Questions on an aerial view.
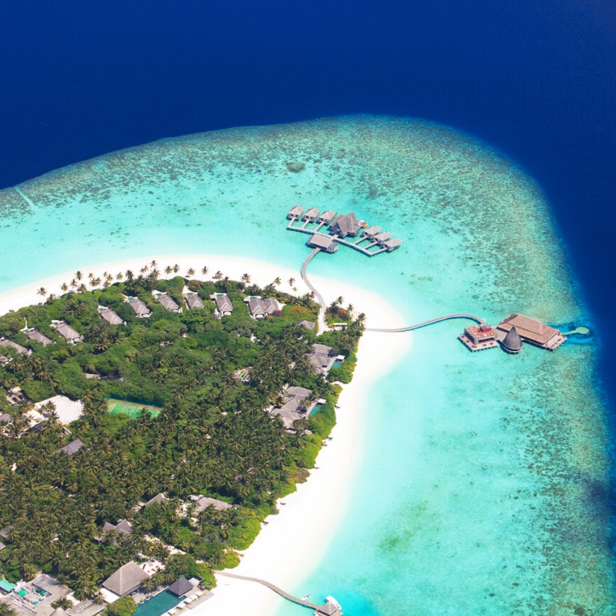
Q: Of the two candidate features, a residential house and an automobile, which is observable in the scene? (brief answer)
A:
residential house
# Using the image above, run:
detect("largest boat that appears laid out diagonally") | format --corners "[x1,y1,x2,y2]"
[326,594,341,611]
